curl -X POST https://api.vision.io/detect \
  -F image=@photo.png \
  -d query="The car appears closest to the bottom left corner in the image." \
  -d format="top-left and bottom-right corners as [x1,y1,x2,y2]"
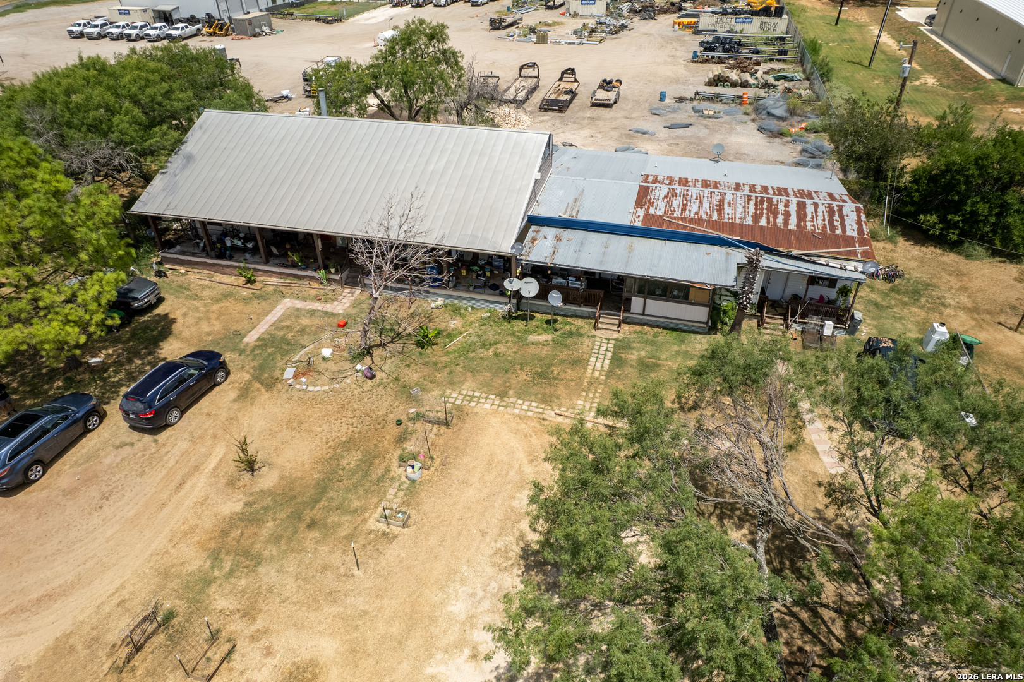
[0,397,101,492]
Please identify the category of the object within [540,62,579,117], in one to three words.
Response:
trailer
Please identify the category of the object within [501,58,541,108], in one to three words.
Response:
trailer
